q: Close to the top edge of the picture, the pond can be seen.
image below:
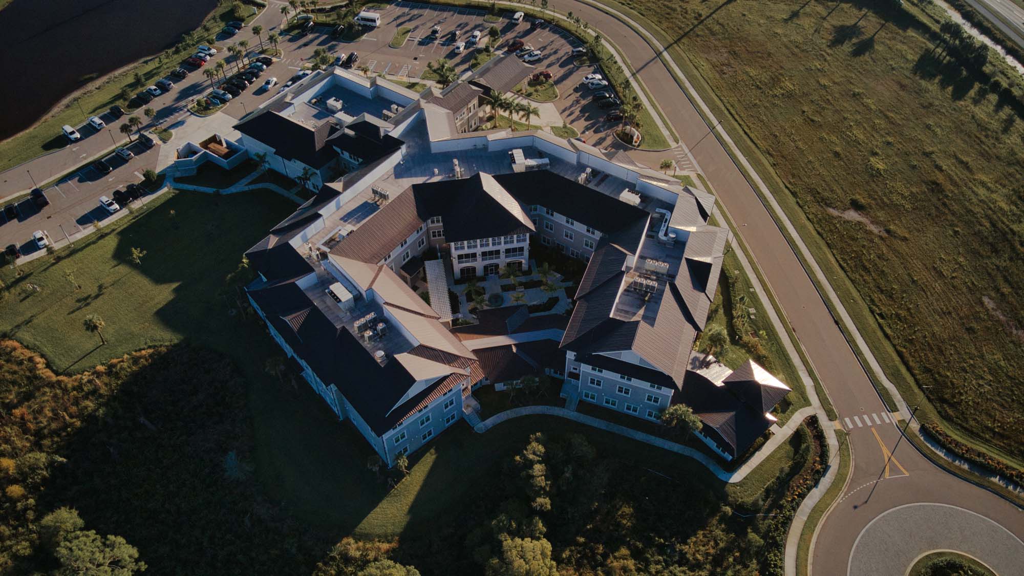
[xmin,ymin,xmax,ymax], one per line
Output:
[0,0,219,140]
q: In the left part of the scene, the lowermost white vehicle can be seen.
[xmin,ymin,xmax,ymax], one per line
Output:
[32,230,49,249]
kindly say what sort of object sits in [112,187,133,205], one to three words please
car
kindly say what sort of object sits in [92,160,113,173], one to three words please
vehicle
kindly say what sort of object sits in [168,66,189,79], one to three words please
vehicle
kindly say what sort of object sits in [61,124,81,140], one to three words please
car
